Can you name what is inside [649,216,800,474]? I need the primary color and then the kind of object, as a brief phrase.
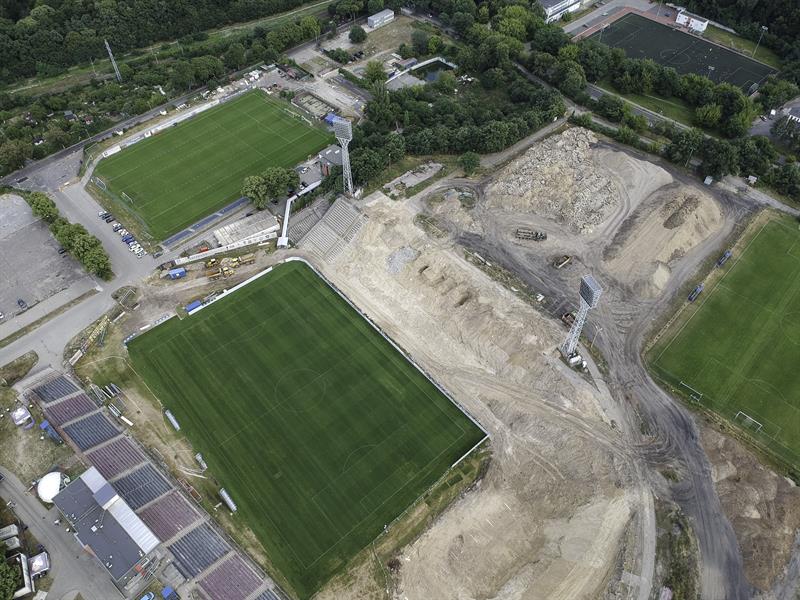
green soccer field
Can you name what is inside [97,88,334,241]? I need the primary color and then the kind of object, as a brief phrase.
green soccer field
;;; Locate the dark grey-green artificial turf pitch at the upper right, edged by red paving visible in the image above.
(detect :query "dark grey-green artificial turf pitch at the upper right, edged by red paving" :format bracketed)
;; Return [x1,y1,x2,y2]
[573,12,778,108]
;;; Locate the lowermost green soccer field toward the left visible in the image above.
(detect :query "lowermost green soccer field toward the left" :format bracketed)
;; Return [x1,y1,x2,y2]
[126,260,486,600]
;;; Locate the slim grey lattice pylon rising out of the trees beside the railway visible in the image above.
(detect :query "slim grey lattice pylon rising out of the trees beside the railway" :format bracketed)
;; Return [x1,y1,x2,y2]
[102,40,122,82]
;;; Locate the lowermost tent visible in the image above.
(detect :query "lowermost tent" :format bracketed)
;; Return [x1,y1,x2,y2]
[28,552,52,577]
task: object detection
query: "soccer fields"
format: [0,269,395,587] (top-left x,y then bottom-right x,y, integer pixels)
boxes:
[649,216,800,474]
[97,88,334,241]
[126,260,486,600]
[573,12,778,108]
